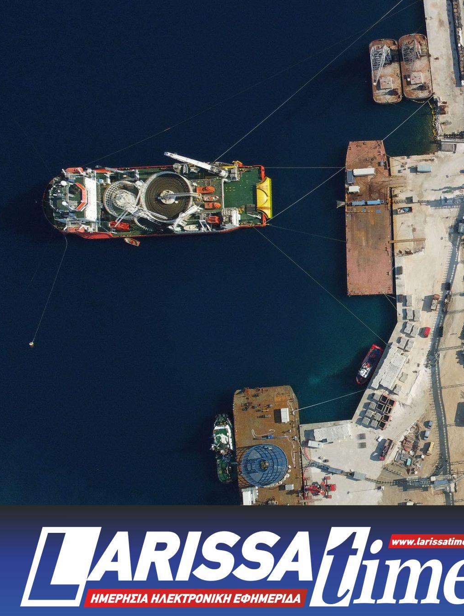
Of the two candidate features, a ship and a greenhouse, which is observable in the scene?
ship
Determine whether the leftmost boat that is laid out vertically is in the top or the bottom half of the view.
bottom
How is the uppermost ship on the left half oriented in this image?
from left to right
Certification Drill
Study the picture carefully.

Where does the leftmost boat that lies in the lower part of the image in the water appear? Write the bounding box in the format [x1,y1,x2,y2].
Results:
[213,415,238,482]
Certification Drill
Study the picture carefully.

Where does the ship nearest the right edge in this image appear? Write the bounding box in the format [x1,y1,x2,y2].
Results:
[399,34,432,99]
